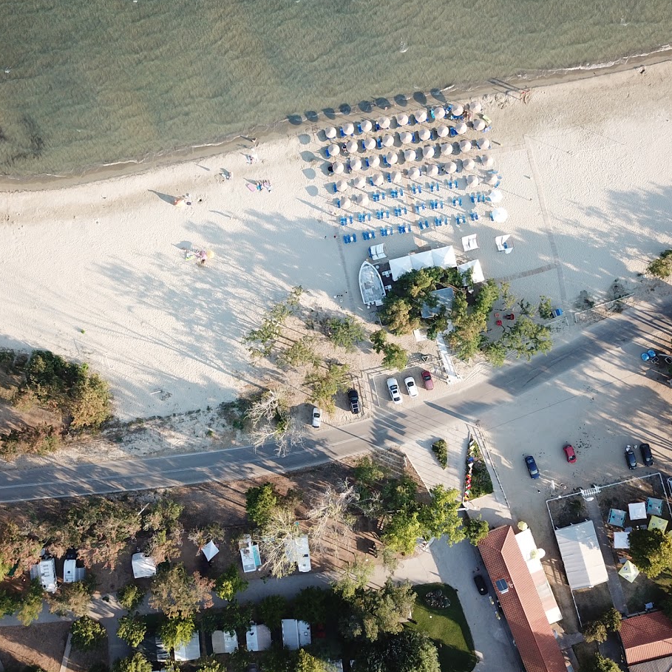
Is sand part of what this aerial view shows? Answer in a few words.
Yes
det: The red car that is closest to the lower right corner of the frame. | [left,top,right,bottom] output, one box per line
[561,442,577,464]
